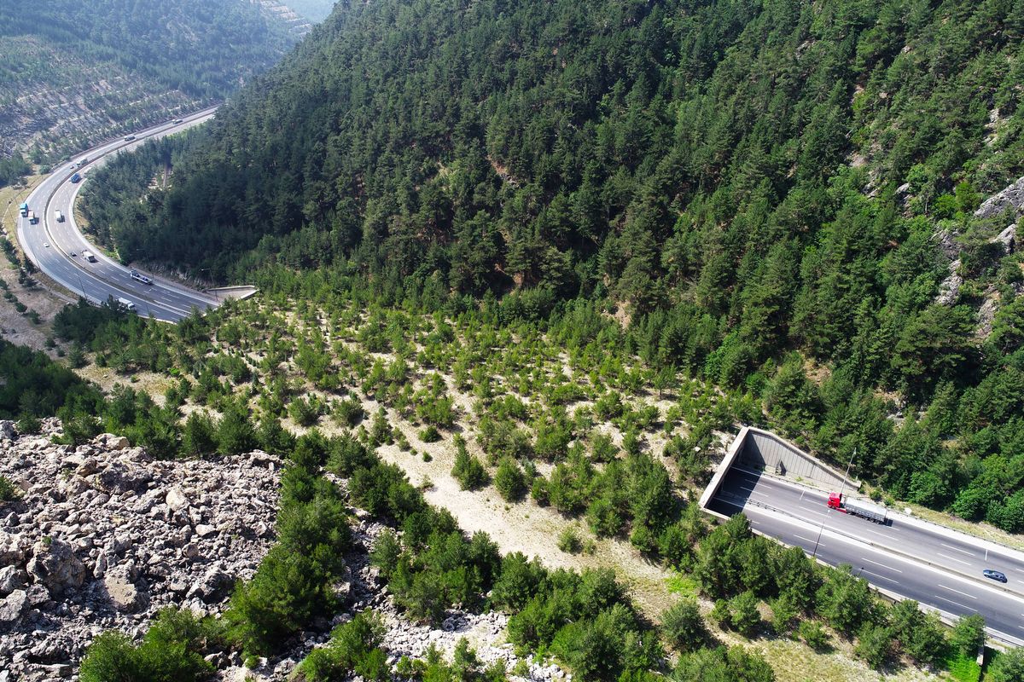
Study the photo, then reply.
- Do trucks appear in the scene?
Yes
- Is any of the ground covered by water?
No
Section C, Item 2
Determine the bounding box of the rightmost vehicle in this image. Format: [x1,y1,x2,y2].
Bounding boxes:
[985,570,1009,584]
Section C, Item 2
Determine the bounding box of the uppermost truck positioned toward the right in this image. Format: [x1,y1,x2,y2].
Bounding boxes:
[831,492,892,524]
